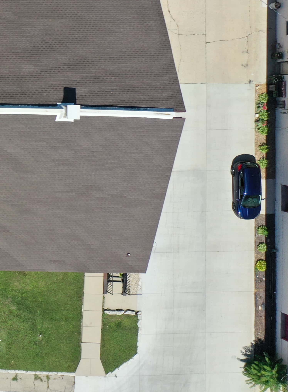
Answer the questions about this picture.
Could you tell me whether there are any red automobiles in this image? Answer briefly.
No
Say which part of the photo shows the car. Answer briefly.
right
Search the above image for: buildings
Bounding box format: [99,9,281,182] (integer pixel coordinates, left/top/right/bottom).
[278,0,288,392]
[0,0,186,273]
